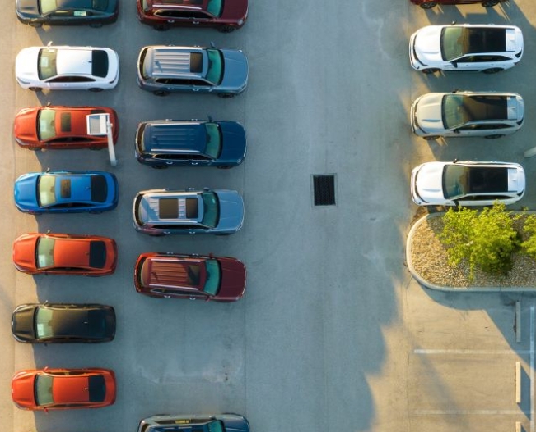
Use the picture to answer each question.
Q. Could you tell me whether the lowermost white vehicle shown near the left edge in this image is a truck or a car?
car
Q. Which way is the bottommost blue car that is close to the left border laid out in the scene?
from left to right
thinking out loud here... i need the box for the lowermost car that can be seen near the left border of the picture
[11,366,117,413]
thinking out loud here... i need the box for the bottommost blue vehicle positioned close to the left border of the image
[13,167,118,215]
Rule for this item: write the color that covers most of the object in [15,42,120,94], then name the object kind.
white car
